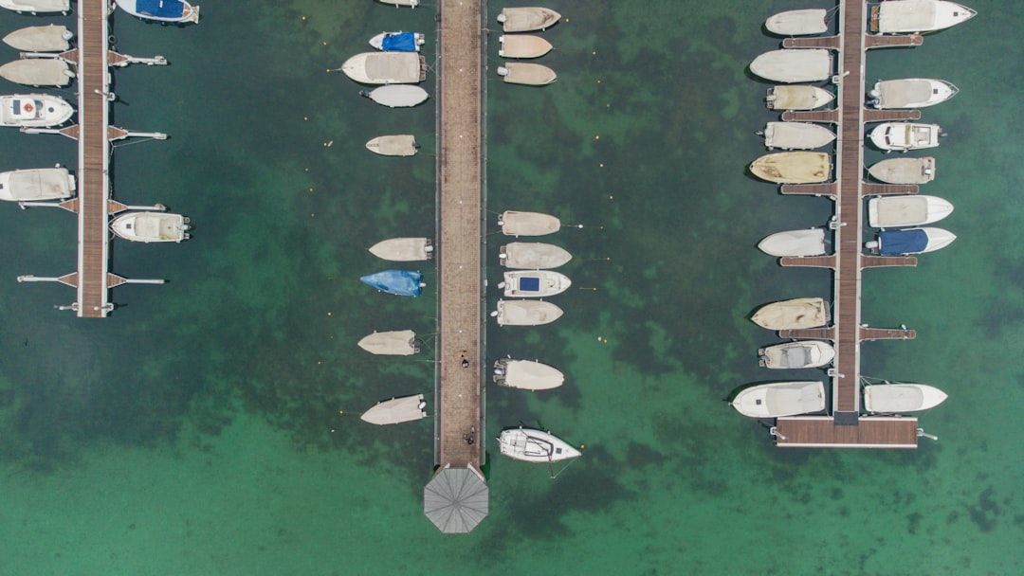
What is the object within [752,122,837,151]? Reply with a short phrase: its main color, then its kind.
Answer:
white boat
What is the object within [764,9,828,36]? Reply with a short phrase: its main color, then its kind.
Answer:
white boat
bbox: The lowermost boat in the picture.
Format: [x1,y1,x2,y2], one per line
[497,426,582,477]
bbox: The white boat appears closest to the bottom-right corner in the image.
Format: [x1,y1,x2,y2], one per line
[859,380,949,416]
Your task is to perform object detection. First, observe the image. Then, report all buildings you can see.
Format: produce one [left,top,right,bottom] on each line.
[424,461,489,534]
